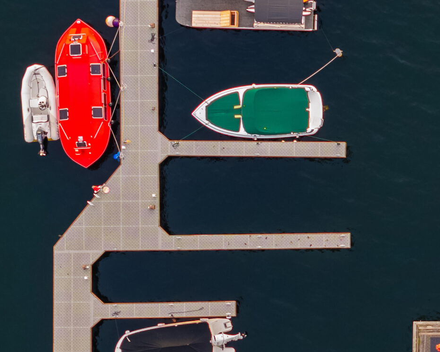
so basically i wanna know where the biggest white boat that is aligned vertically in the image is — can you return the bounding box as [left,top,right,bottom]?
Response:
[21,64,59,156]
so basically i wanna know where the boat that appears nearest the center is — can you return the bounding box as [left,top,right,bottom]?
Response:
[192,83,324,137]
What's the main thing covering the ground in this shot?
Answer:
water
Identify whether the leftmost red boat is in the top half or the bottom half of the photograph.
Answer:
top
